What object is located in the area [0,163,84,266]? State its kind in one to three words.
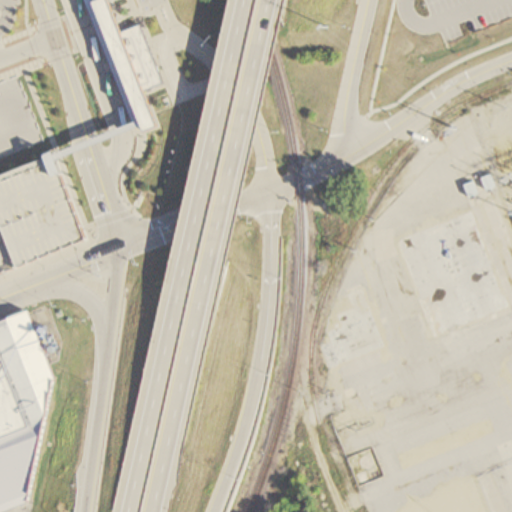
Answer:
building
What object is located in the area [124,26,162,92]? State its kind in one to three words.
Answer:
building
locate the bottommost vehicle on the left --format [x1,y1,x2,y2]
[88,241,122,258]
